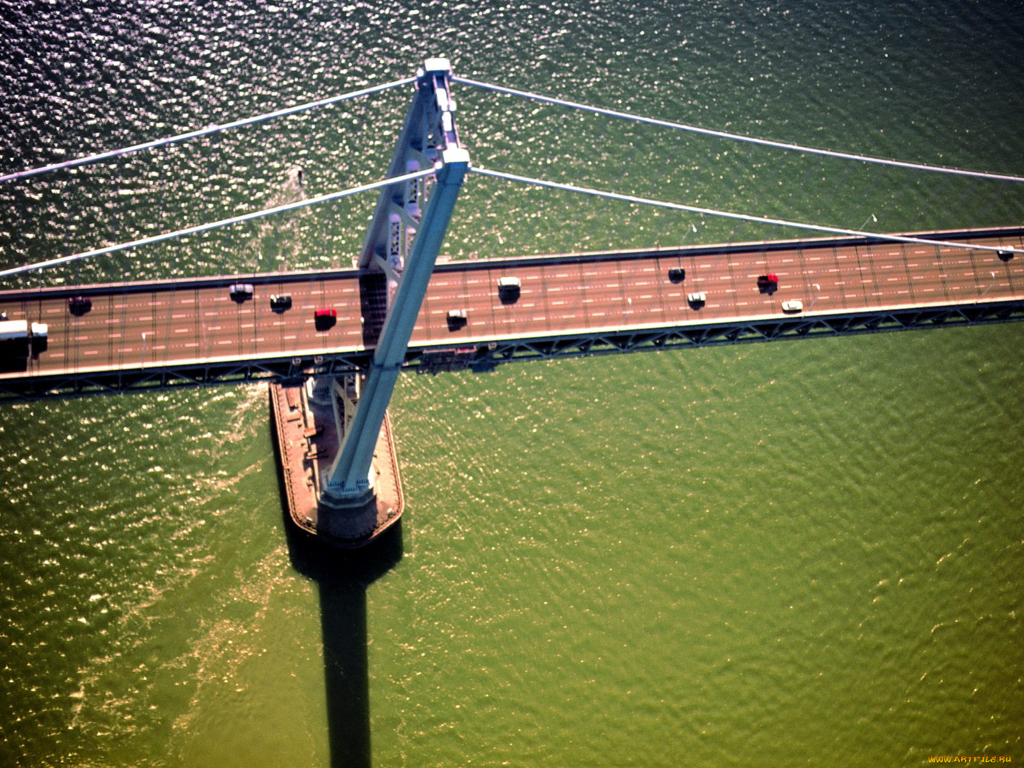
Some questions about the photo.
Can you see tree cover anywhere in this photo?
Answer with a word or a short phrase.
No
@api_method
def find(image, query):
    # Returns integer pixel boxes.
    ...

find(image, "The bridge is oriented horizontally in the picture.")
[0,61,1024,495]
